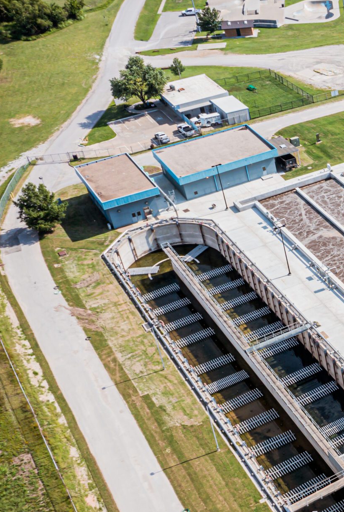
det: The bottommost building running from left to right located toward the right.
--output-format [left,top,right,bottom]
[152,123,298,200]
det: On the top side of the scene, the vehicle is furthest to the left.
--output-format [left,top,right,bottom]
[152,129,170,143]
